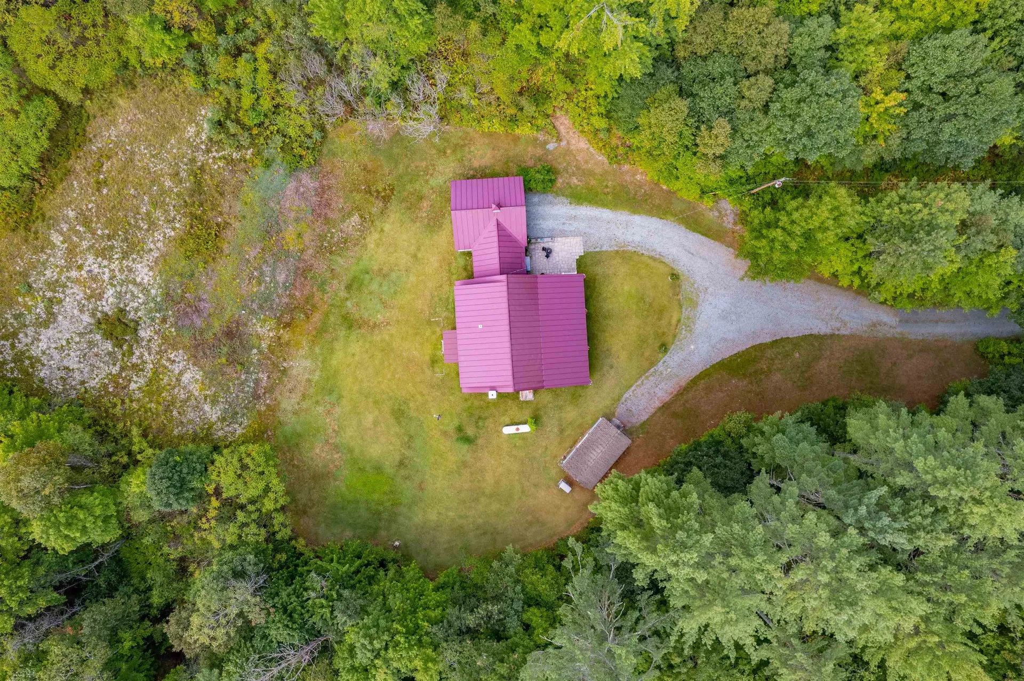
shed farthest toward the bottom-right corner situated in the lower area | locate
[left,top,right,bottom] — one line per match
[560,415,631,488]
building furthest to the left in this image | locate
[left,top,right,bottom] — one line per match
[442,176,592,400]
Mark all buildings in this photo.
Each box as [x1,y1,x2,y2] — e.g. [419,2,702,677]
[442,176,592,400]
[560,415,631,488]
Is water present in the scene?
No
